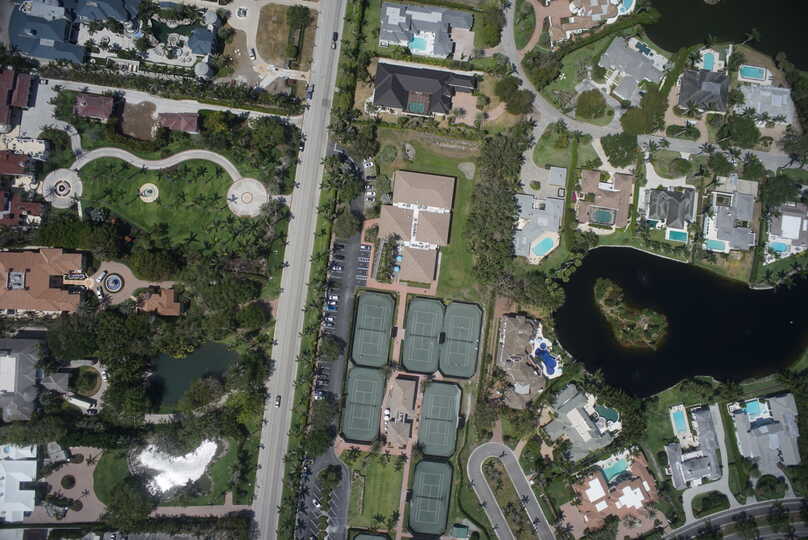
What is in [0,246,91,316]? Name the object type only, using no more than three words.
house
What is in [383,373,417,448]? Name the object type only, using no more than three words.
building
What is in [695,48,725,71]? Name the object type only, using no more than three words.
swimming pool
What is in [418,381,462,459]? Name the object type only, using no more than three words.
tennis court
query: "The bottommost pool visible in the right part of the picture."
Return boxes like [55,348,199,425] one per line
[600,453,635,482]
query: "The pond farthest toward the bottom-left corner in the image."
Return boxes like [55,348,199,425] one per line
[130,436,230,500]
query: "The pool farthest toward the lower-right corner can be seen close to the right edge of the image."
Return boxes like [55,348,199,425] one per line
[731,399,768,422]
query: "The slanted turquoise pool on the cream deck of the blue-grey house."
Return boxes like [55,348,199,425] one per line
[529,235,560,264]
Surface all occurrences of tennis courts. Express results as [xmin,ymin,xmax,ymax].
[402,297,446,374]
[410,459,454,538]
[341,366,386,444]
[351,292,396,369]
[440,300,484,378]
[418,381,462,459]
